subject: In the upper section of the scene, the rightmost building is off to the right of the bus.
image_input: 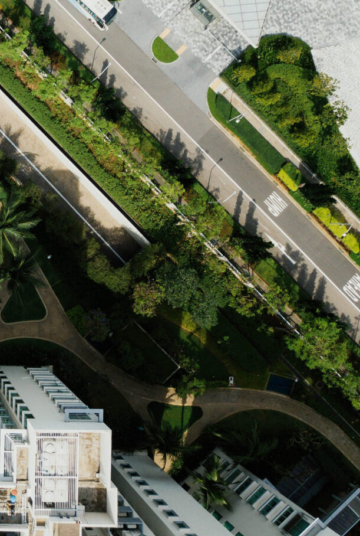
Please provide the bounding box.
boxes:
[206,0,271,48]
